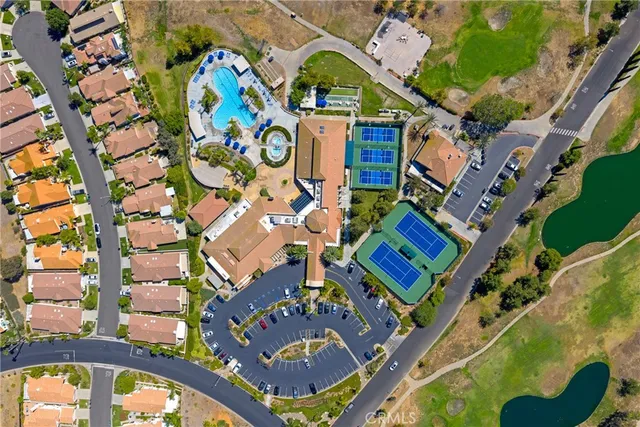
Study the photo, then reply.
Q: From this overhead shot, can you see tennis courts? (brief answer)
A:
Yes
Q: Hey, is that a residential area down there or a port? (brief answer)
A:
residential area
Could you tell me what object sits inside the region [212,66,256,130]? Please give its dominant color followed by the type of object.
blue swimming pool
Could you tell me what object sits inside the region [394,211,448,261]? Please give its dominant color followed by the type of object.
blue tennis court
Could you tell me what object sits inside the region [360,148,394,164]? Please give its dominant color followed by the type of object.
blue sports court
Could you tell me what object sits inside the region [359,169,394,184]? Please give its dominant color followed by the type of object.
blue sports court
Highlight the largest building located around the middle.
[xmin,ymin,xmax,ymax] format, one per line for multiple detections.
[203,119,347,291]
